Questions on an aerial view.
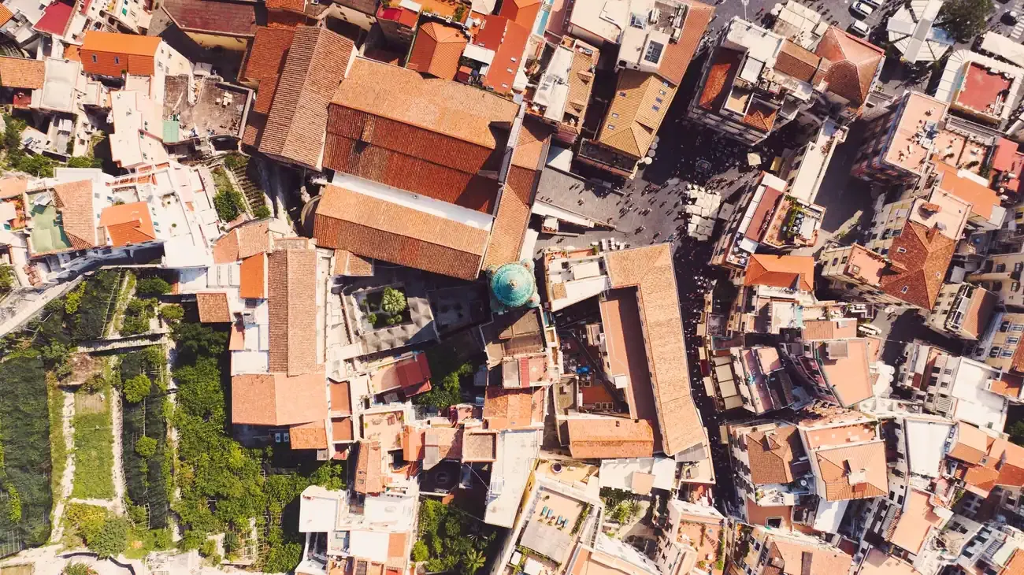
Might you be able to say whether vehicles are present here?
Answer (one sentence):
Yes, a vehicle is visible in the scene.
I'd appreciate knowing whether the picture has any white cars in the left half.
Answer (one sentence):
No, no white car is visible in the left half.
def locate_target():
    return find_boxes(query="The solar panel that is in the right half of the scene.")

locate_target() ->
[647,40,663,62]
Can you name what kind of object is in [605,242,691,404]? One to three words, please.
building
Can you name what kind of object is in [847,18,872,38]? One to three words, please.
car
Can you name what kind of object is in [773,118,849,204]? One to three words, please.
house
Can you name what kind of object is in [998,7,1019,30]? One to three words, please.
car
